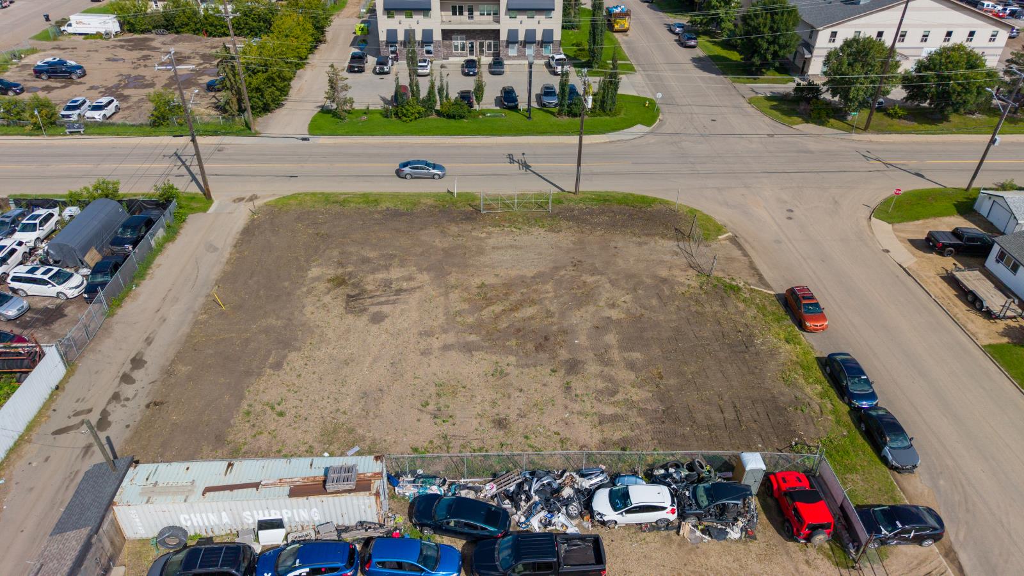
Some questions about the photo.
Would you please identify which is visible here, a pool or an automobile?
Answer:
automobile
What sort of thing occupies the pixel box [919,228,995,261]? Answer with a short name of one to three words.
truck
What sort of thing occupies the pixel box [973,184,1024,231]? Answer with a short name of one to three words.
building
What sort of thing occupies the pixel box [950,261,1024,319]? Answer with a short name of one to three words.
trailer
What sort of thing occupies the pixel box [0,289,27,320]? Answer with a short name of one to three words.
car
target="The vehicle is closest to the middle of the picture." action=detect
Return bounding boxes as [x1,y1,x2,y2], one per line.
[396,160,445,180]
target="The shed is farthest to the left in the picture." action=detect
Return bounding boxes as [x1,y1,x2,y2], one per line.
[27,456,137,576]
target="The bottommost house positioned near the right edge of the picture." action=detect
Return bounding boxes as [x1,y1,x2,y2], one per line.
[986,225,1024,300]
